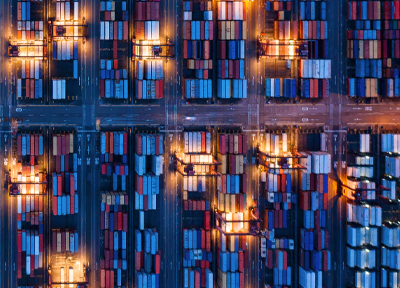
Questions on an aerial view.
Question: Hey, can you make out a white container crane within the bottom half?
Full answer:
No, no white container crane can be made out within the bottom half.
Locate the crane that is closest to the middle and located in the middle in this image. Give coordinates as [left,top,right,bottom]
[173,156,220,176]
